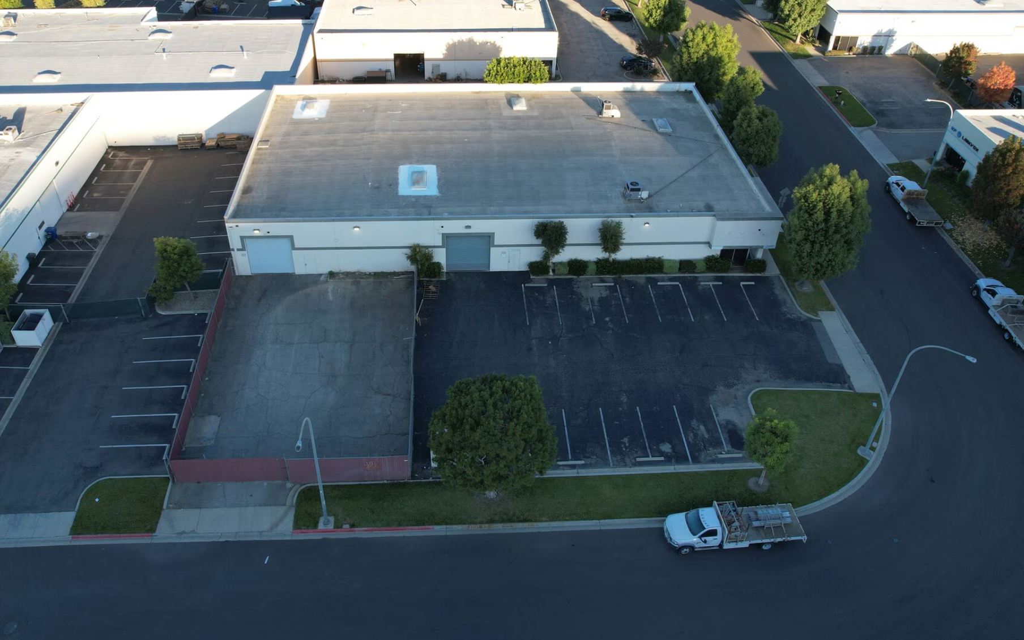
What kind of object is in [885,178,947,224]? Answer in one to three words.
truck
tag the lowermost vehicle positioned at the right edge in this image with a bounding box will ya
[973,281,1024,340]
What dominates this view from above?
paved ground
